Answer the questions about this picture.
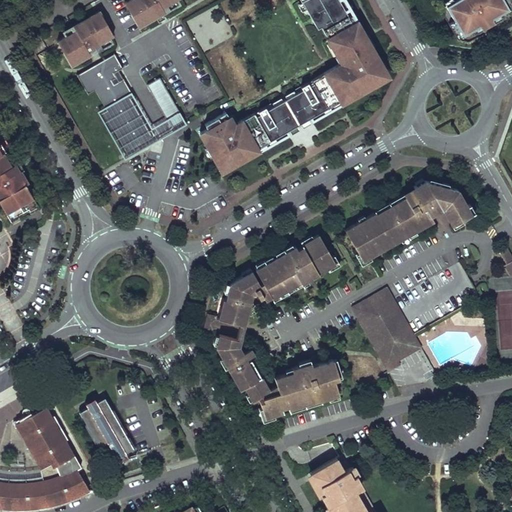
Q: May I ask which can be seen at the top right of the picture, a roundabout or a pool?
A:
roundabout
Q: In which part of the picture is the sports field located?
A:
top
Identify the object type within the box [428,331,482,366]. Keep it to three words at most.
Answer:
swimming pool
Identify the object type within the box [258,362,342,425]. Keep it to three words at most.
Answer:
building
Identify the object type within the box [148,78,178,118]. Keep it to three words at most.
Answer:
shed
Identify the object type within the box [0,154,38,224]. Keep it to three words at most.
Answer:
house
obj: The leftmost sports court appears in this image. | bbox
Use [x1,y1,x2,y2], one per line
[194,4,233,50]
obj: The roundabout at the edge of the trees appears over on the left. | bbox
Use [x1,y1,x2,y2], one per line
[69,226,190,346]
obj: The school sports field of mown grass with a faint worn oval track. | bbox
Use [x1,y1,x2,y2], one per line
[242,0,320,94]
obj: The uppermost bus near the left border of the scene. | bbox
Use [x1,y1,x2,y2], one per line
[4,60,28,100]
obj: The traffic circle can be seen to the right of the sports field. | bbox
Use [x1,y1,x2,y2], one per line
[410,64,498,152]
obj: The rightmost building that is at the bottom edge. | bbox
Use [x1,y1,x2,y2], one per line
[308,460,374,512]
